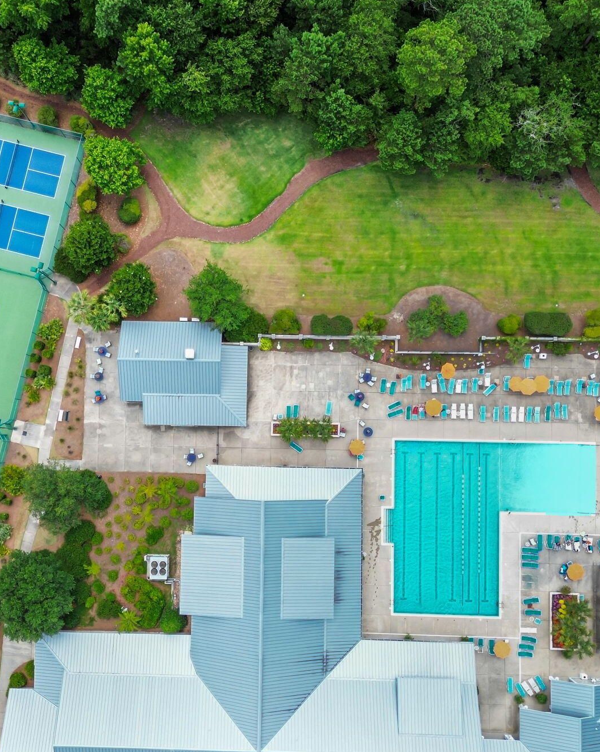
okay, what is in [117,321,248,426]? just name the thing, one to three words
building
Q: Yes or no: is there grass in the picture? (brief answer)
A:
Yes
